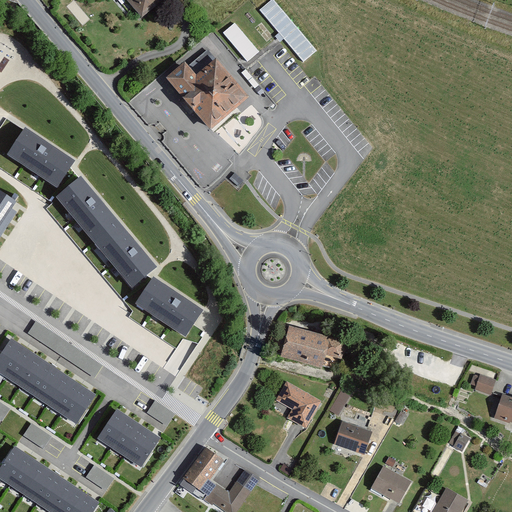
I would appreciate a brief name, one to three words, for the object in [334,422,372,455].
house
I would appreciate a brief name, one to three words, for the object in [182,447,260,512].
house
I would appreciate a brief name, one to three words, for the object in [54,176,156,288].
building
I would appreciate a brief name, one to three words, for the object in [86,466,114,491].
building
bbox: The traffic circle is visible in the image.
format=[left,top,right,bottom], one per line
[237,233,310,306]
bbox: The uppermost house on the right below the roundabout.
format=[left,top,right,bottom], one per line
[280,325,342,368]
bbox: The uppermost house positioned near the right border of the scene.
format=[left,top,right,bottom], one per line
[471,374,496,395]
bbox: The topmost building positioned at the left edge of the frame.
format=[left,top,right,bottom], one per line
[6,127,74,187]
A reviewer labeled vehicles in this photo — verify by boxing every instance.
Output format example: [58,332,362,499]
[274,138,285,150]
[74,464,86,474]
[304,126,314,136]
[8,271,22,286]
[134,356,148,372]
[284,58,295,66]
[136,400,146,409]
[276,48,286,58]
[106,336,116,348]
[258,72,269,82]
[368,440,377,454]
[298,76,309,86]
[418,352,424,364]
[22,280,32,290]
[254,67,264,76]
[279,160,290,165]
[266,82,276,92]
[154,158,164,167]
[119,346,127,360]
[297,184,308,188]
[284,128,294,139]
[332,487,338,498]
[214,432,224,442]
[288,62,298,72]
[320,95,331,105]
[506,384,512,394]
[284,166,296,172]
